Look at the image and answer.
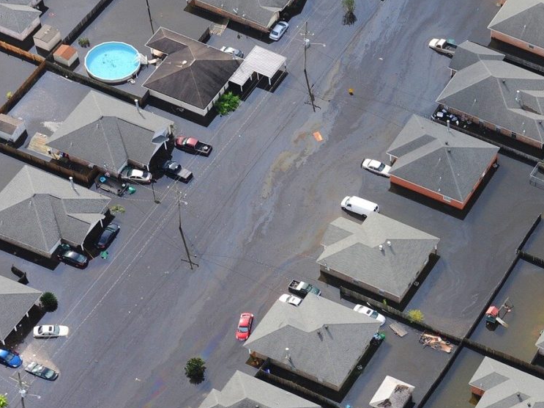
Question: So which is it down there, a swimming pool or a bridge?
swimming pool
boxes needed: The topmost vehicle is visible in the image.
[267,21,292,44]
